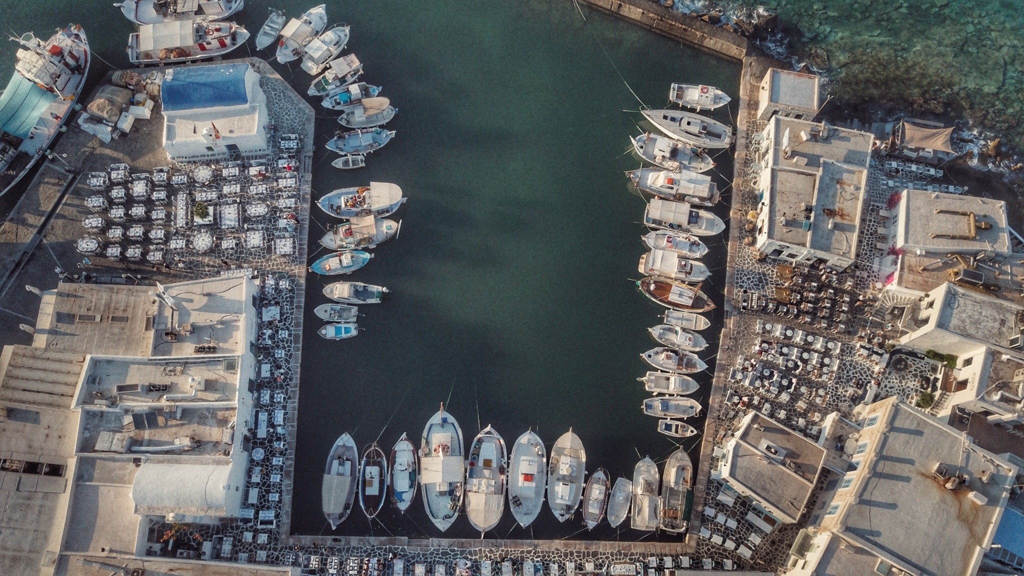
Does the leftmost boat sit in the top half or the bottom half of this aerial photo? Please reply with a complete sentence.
The top half of the photo is where the leftmost boat is.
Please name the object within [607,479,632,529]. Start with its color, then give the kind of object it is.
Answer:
gray boat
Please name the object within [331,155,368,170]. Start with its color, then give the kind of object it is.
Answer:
gray boat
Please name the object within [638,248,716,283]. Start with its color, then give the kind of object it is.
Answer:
white boat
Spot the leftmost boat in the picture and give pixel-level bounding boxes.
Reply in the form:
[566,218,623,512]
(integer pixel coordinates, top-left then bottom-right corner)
[0,16,90,203]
